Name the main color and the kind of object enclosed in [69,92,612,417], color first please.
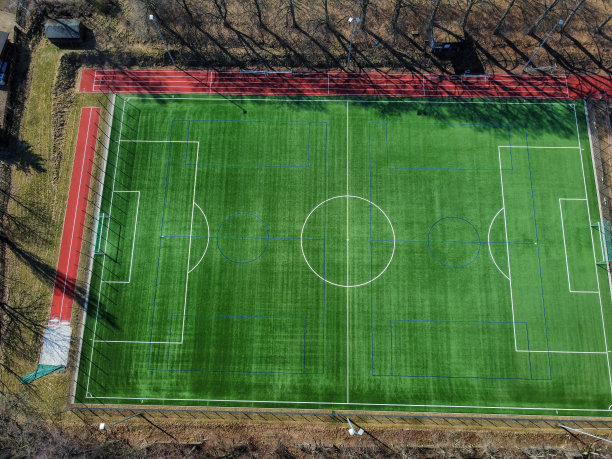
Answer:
green soccer field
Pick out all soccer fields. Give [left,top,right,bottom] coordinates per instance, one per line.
[369,123,551,380]
[69,92,612,417]
[148,120,327,374]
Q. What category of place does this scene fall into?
sports ground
